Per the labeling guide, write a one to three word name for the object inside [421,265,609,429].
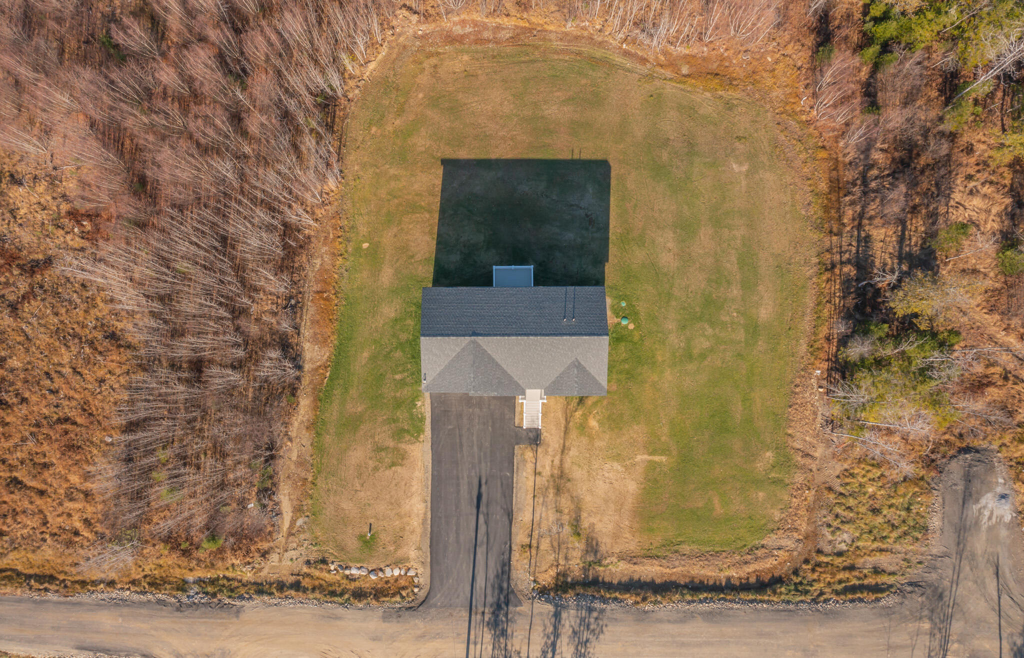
house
